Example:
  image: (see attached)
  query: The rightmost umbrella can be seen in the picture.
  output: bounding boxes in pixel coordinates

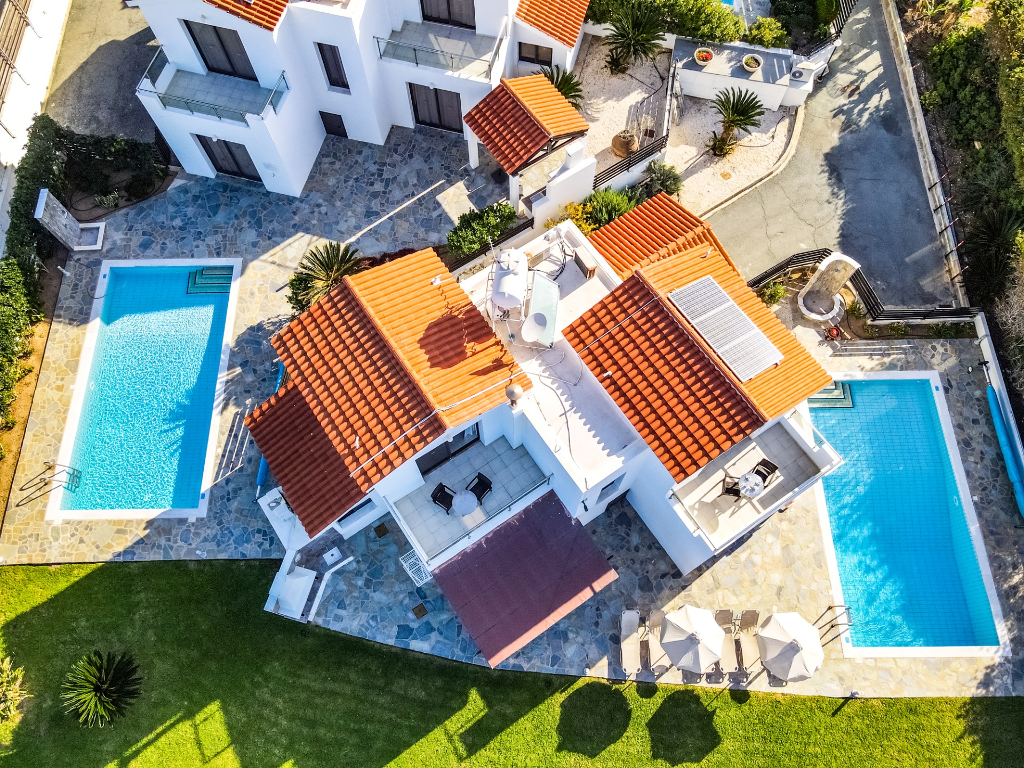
[755,612,822,683]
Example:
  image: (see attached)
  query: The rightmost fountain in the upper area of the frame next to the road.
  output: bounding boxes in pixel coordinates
[792,258,854,333]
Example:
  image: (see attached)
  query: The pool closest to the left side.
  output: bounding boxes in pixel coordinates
[45,257,242,524]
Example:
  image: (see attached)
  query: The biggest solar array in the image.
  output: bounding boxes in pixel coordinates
[670,272,784,380]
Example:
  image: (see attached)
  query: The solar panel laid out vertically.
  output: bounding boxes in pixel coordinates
[532,271,562,354]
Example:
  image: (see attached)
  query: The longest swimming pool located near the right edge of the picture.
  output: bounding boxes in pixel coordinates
[798,371,1012,665]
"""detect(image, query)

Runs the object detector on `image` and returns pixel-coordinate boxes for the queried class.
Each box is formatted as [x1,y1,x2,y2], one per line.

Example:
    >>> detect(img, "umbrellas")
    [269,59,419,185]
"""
[755,612,822,683]
[660,604,726,675]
